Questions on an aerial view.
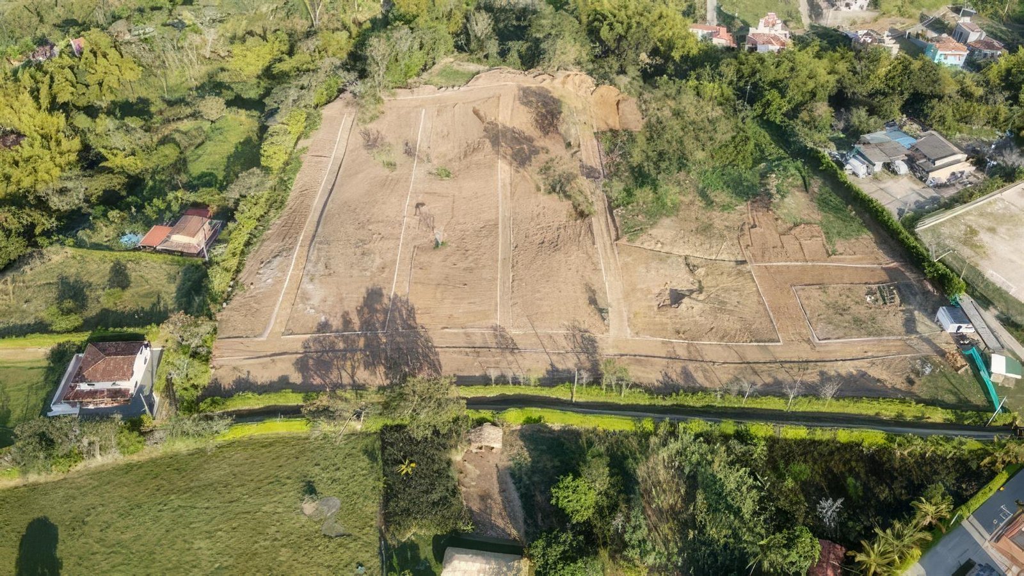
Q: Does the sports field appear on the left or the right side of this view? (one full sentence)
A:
The sports field appears in the right half of the scene.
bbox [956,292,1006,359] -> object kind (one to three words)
shed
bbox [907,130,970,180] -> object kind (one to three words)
building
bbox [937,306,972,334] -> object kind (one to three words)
building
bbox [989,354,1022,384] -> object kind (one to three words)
shed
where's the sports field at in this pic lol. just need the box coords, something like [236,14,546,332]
[917,184,1024,303]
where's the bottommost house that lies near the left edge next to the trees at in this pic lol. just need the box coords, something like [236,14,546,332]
[49,340,155,421]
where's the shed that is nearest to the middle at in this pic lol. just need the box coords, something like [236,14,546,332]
[471,425,503,453]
